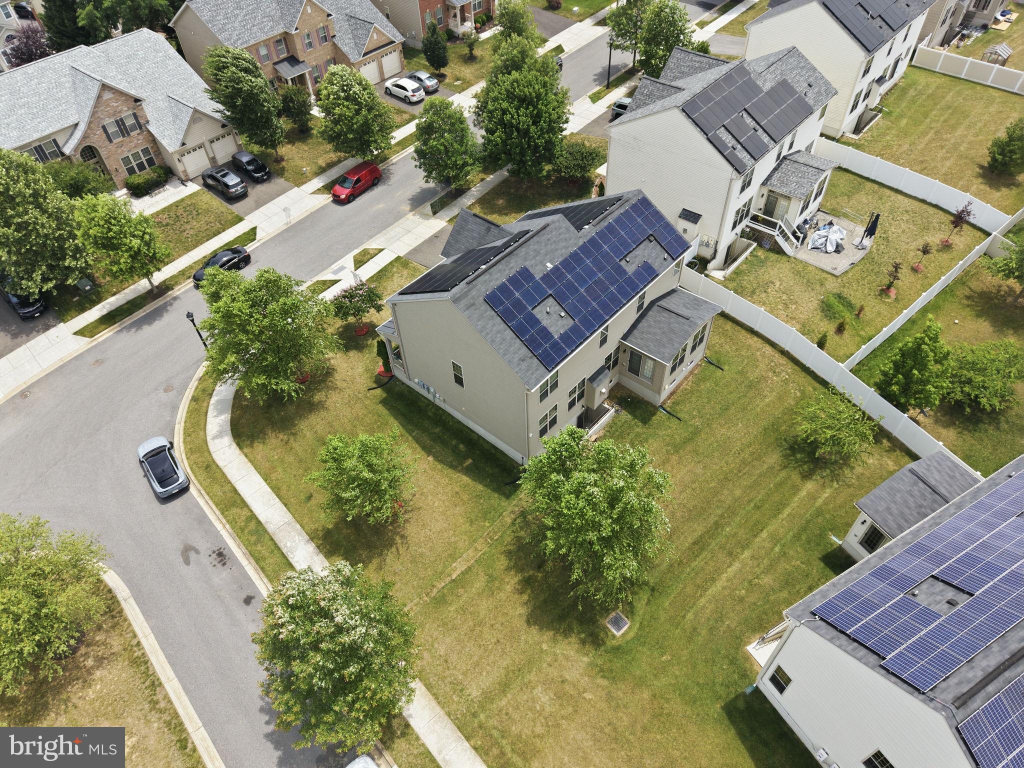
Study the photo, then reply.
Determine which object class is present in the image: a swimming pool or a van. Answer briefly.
van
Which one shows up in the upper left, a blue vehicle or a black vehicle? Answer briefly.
black vehicle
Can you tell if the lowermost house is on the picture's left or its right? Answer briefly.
right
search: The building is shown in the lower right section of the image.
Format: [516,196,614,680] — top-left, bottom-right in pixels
[746,450,1024,768]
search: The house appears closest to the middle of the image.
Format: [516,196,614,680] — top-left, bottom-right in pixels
[374,188,721,465]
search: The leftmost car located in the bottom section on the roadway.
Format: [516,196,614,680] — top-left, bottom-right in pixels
[136,437,192,510]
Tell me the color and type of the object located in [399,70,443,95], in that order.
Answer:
gray car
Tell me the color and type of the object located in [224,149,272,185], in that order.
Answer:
black car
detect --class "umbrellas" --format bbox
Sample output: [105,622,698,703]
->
[851,208,878,252]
